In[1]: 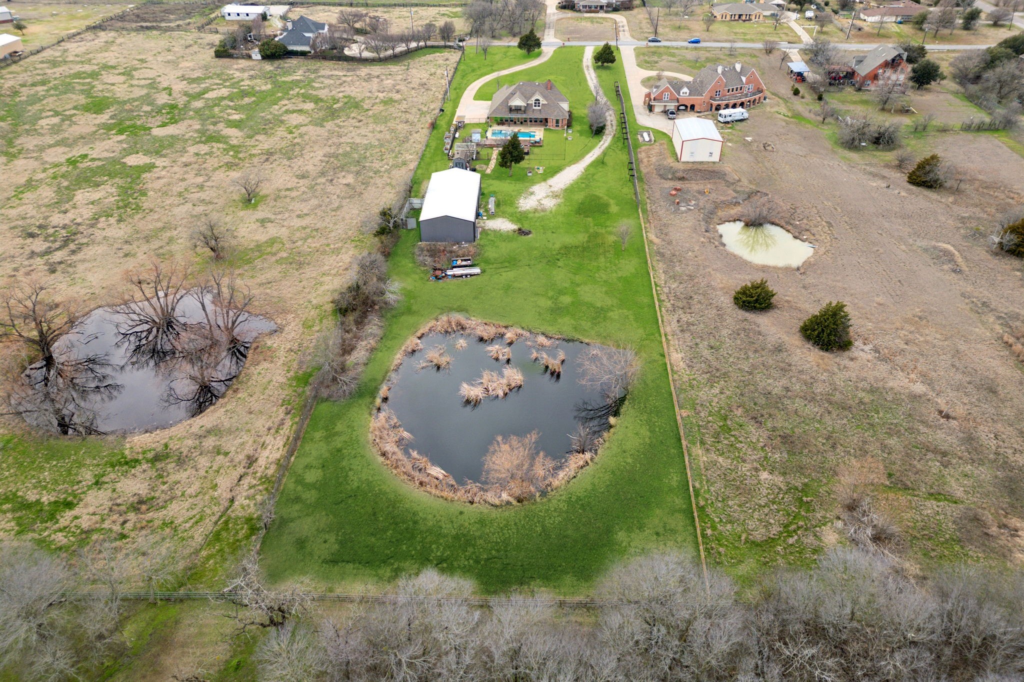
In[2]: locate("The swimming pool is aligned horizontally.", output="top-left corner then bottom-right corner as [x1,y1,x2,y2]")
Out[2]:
[486,126,544,140]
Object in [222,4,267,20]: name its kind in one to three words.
barn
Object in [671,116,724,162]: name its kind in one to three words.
building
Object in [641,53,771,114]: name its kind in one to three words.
house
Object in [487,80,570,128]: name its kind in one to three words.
house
